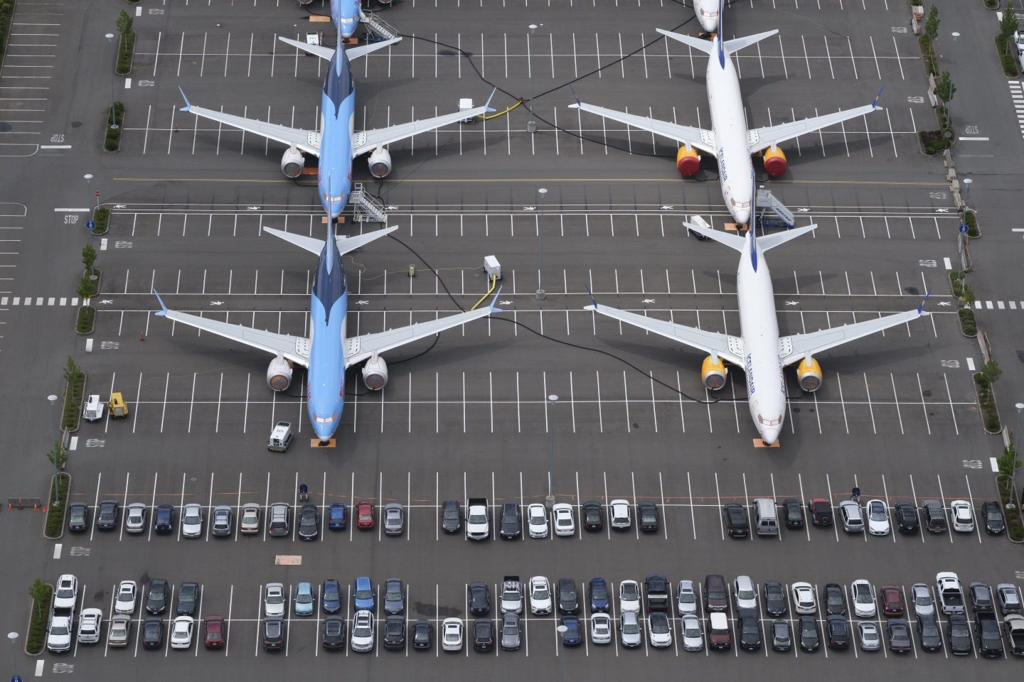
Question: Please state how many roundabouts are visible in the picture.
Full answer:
There are no roundabouts in the image.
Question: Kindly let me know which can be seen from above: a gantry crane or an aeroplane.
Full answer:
The image shows an aeroplane.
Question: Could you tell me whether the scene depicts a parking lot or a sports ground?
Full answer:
The picture captures a parking lot.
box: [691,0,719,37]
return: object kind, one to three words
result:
airplane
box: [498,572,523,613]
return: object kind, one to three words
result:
truck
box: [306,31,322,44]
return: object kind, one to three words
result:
vehicle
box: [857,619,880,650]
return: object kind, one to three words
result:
car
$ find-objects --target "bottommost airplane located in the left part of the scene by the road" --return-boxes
[154,166,502,444]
